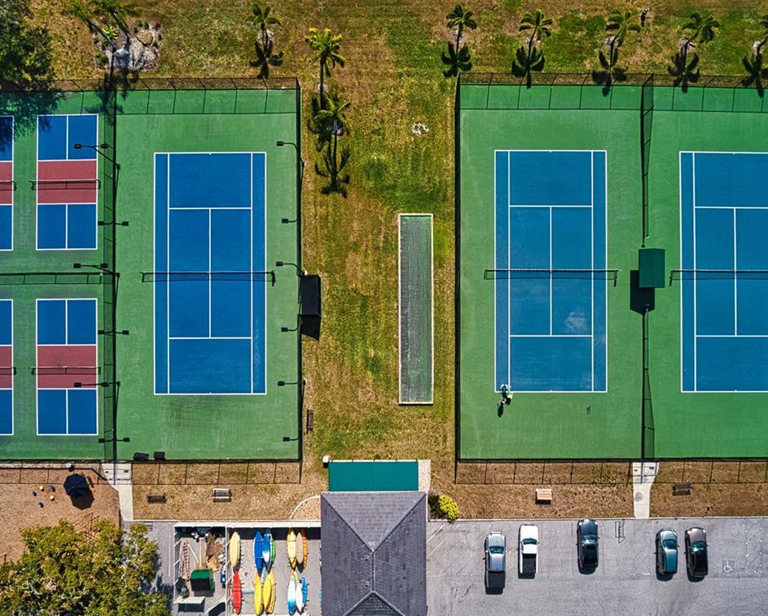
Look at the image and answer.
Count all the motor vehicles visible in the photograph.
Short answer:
5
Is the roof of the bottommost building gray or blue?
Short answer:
gray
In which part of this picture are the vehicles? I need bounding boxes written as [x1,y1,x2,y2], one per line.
[683,525,708,576]
[484,527,506,586]
[653,525,678,573]
[518,521,540,573]
[574,517,598,568]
